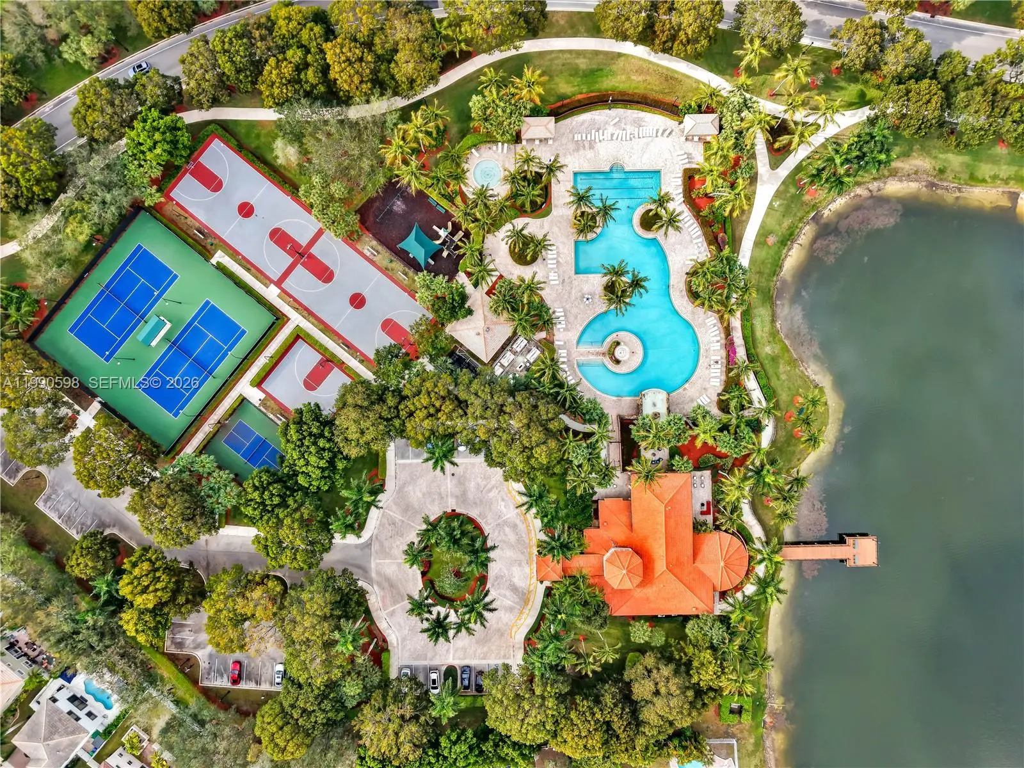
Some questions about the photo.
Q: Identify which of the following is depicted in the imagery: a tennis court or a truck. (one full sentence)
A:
Visible in the photo is a tennis court.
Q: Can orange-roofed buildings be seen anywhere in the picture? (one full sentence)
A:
Yes, an orange-roofed building appears in the view.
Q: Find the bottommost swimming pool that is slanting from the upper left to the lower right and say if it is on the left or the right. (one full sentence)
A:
The bottommost swimming pool that is slanting from the upper left to the lower right appears in the left half of the scene.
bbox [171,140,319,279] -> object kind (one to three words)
basketball court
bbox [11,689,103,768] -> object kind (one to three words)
house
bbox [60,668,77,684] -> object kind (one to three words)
umbrella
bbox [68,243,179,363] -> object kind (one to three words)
tennis court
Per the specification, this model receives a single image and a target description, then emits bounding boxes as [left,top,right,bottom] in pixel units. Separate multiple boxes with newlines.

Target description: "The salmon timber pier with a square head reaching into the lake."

[777,532,880,567]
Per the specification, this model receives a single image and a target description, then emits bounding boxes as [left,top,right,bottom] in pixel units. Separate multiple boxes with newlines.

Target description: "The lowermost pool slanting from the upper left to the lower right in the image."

[82,677,114,711]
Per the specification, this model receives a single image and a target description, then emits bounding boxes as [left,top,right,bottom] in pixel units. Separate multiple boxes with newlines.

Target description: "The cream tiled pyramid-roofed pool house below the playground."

[446,290,513,364]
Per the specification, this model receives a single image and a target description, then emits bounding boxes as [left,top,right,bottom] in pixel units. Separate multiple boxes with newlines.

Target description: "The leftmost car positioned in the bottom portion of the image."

[229,662,241,686]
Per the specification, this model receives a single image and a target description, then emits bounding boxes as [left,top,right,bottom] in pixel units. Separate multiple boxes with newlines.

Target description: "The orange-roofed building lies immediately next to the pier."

[536,473,749,615]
